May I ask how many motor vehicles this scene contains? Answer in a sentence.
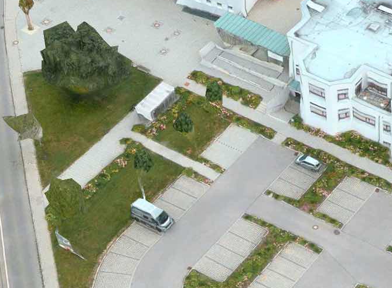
My tally gives 2 motor vehicles in this view.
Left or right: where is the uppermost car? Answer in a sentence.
The uppermost car is on the right side of the image.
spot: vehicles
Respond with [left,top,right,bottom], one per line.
[291,154,326,175]
[127,197,176,234]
